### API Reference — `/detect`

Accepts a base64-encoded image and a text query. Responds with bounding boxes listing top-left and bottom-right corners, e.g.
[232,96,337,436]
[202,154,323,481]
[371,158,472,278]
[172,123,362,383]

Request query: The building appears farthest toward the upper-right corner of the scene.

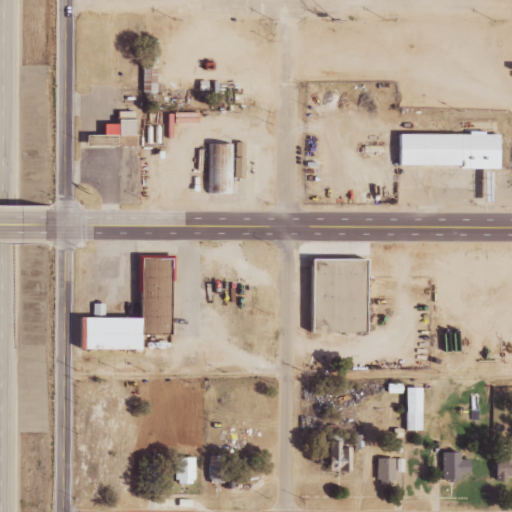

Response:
[399,131,502,169]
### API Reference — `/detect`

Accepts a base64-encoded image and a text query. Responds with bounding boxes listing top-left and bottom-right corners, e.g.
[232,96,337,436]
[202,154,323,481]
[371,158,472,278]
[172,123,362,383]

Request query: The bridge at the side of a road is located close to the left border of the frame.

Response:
[0,206,46,244]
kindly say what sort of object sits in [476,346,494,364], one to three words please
work vehicle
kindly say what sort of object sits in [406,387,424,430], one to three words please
barn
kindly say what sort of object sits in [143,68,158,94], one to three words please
shed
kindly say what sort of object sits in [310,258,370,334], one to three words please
building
